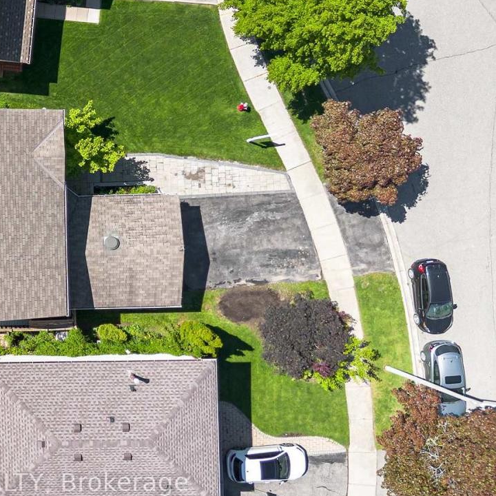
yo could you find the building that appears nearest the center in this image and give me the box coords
[69,186,185,311]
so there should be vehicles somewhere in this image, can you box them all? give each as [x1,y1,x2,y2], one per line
[419,341,467,419]
[231,444,311,485]
[407,259,456,335]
